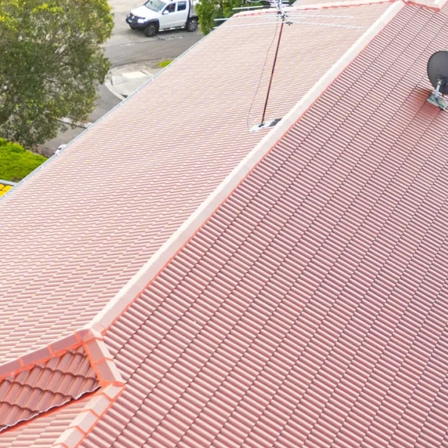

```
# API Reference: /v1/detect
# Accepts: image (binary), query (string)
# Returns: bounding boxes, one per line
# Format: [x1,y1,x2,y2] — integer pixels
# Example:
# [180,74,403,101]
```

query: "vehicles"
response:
[57,144,66,151]
[126,0,204,37]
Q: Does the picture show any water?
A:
No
